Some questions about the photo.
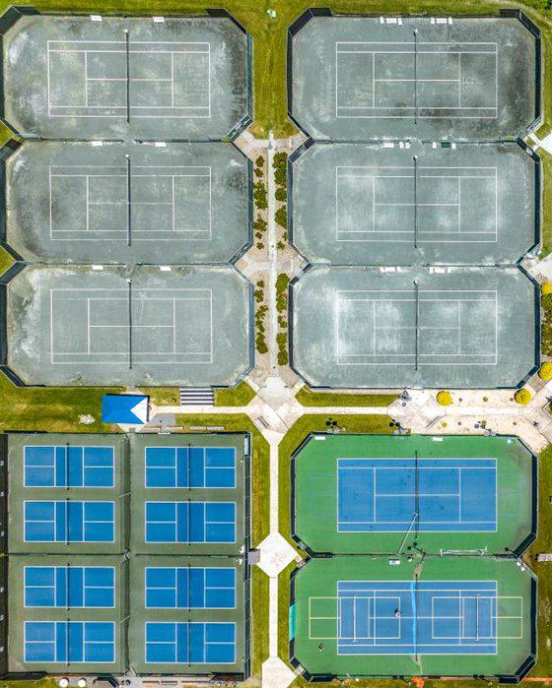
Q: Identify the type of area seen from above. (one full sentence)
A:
The picture captures a sports ground.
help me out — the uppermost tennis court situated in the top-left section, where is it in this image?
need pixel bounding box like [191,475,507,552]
[5,15,246,140]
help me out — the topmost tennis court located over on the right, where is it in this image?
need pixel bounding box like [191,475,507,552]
[293,16,540,141]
